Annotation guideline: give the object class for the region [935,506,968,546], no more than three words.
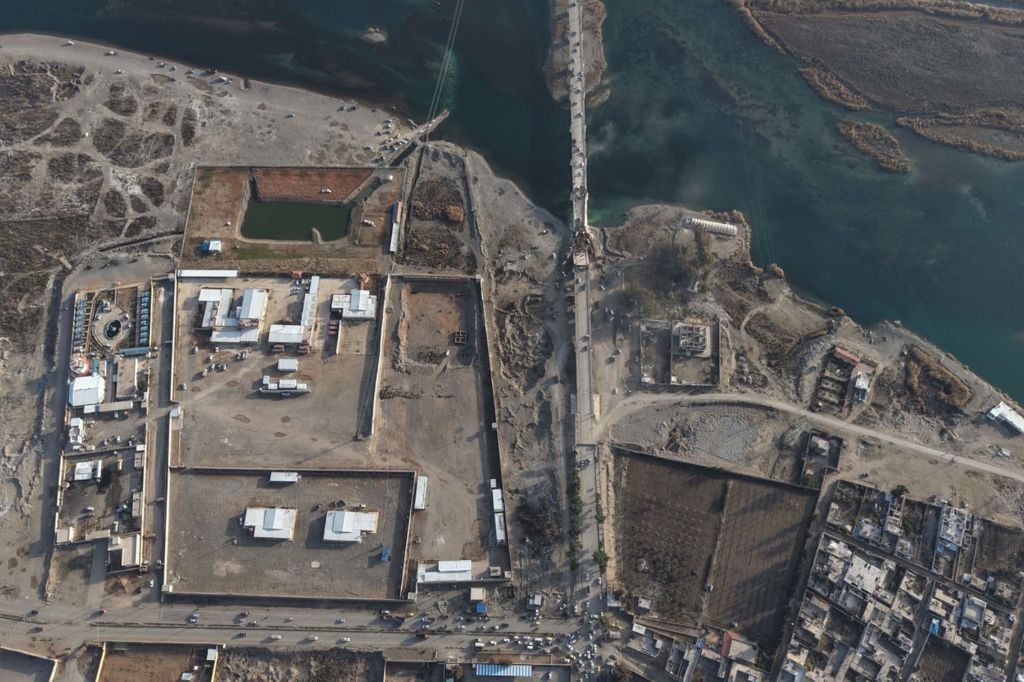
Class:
house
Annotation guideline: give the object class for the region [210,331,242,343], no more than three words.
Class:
building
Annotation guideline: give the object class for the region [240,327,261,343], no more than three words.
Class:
building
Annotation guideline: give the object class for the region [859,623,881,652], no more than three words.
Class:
house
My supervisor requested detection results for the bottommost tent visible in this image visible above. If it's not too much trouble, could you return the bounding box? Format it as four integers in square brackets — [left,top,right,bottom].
[69,377,109,407]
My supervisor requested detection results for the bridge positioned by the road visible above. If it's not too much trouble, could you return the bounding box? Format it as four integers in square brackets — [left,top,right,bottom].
[567,0,598,442]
